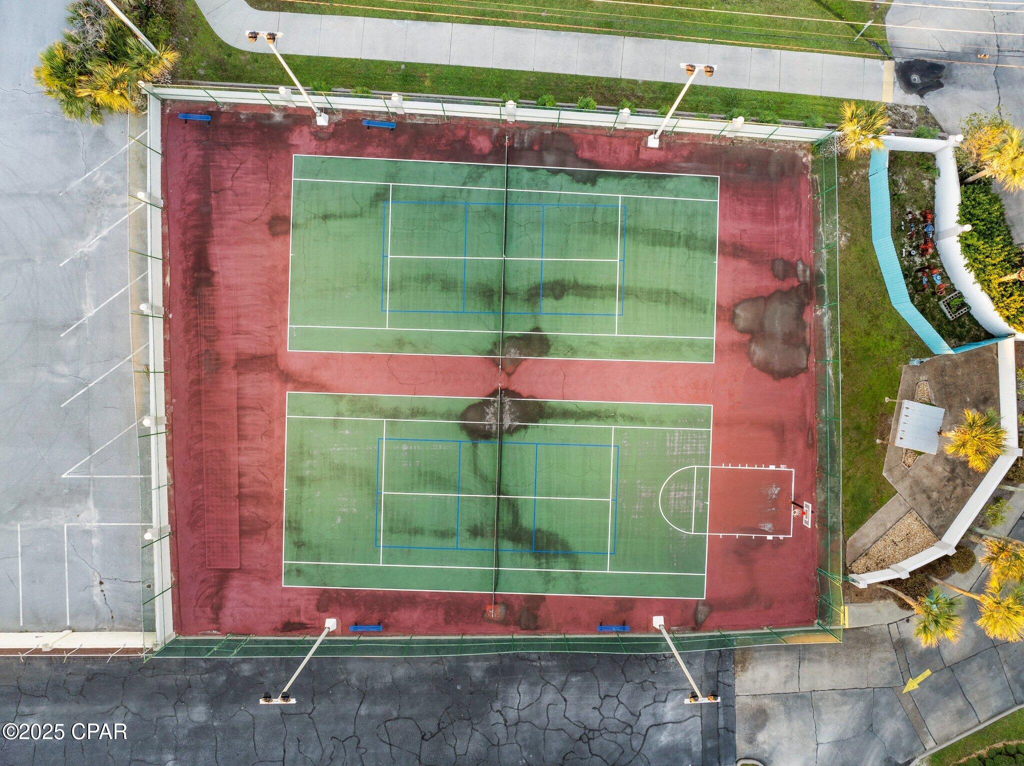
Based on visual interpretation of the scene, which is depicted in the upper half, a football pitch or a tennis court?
tennis court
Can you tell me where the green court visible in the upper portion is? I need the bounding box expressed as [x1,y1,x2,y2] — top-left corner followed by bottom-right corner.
[287,154,720,363]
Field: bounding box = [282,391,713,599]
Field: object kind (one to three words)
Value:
tennis court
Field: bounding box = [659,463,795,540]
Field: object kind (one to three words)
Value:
basketball court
